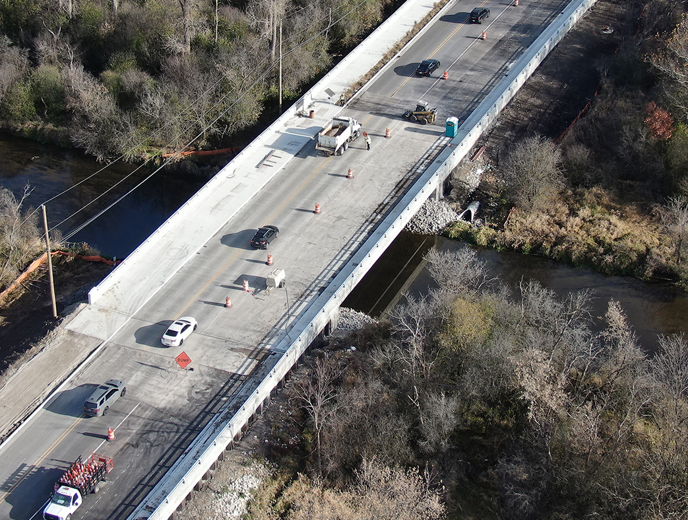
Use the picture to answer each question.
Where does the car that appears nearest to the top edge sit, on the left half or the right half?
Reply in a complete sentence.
The car that appears nearest to the top edge sits on the right side.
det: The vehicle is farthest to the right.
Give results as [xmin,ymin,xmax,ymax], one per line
[466,5,491,24]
